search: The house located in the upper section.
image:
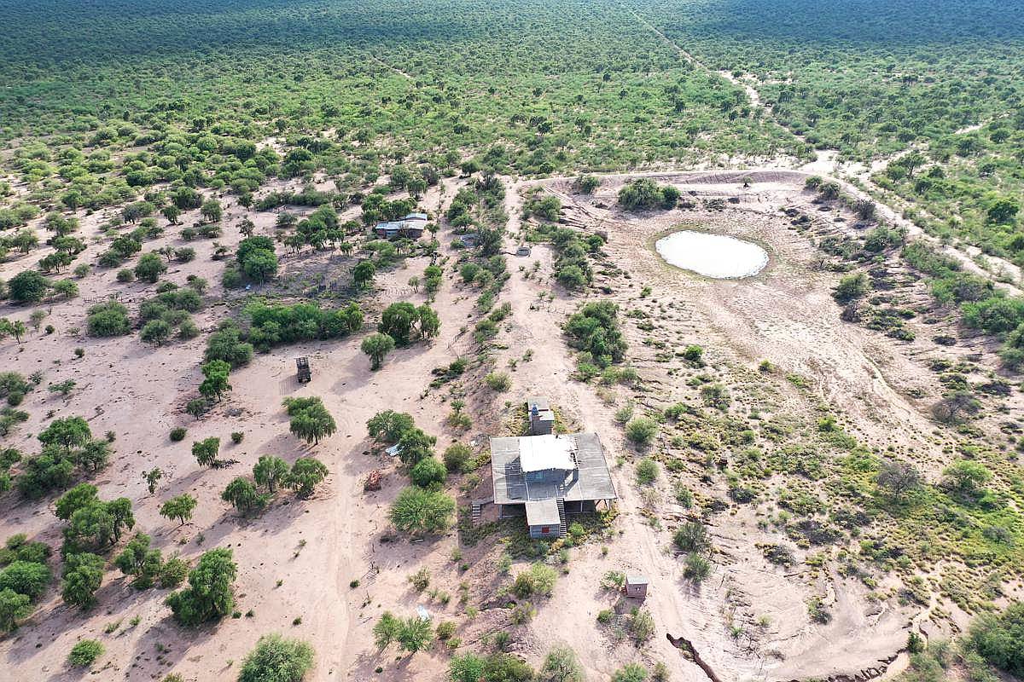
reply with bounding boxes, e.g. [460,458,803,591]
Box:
[376,213,430,241]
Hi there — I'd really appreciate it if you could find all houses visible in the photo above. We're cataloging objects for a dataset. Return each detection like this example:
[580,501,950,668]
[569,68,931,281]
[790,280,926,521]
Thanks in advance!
[376,213,430,241]
[472,431,615,536]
